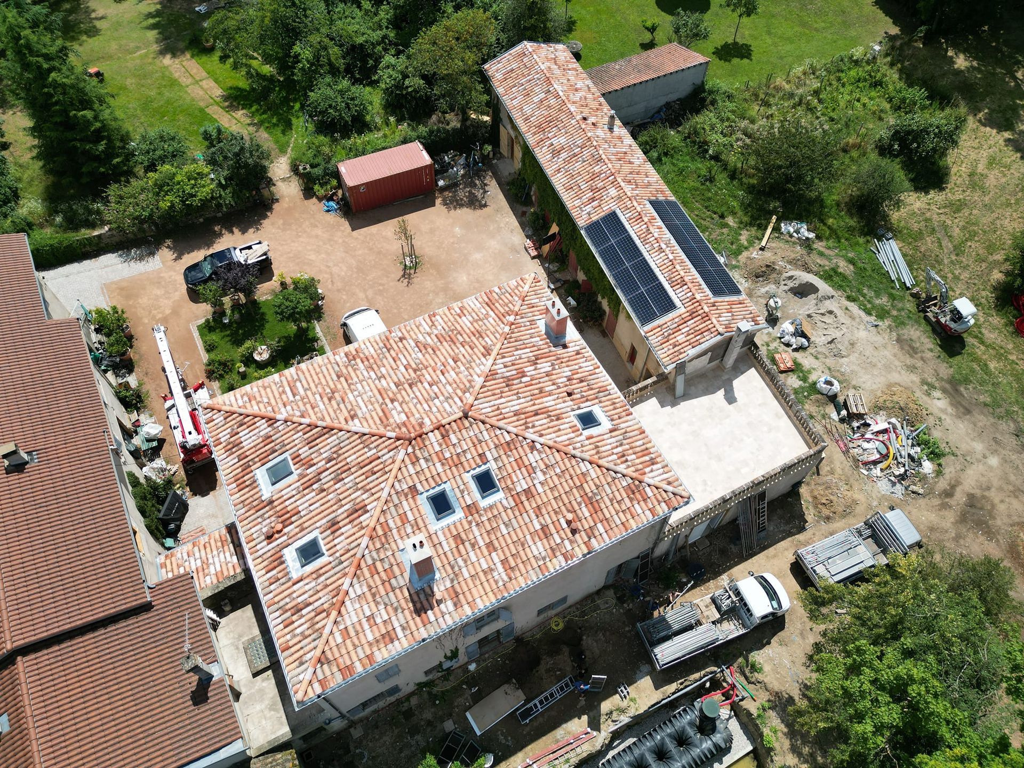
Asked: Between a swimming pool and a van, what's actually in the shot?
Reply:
van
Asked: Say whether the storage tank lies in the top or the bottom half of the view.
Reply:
bottom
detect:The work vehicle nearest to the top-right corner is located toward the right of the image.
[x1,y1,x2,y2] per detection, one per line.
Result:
[917,266,977,339]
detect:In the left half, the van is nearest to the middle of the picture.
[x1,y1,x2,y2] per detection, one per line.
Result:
[343,307,385,340]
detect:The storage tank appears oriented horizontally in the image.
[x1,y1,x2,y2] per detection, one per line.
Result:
[590,702,732,768]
